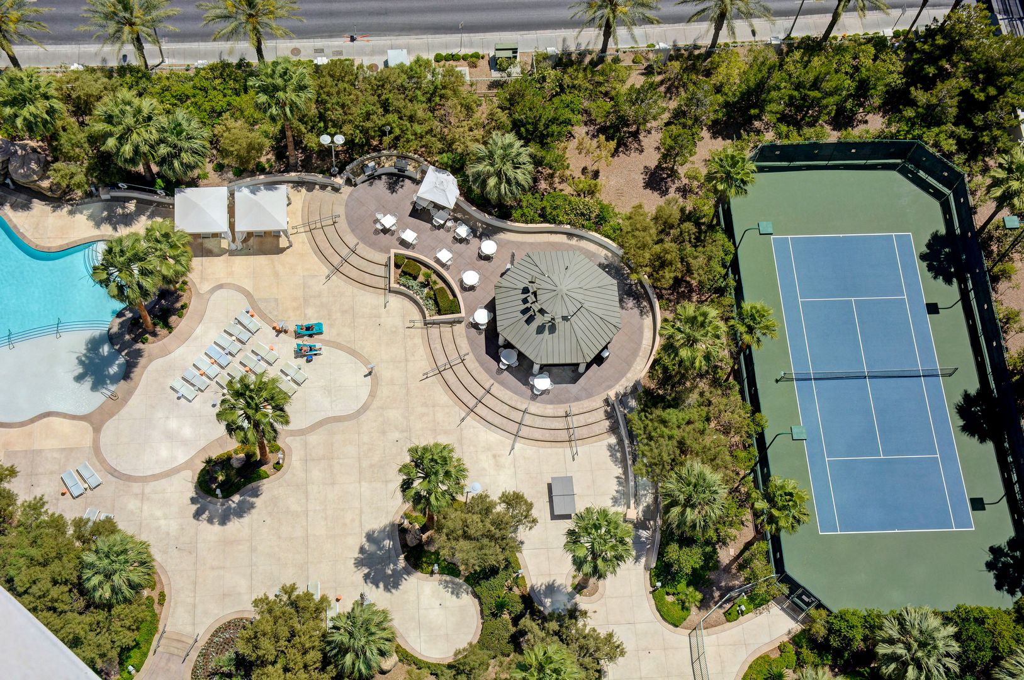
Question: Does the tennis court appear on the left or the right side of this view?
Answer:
right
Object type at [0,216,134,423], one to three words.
swimming pool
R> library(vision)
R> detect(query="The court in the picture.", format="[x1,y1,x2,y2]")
[711,159,1024,632]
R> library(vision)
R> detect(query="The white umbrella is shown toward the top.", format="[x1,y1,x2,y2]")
[417,166,460,211]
